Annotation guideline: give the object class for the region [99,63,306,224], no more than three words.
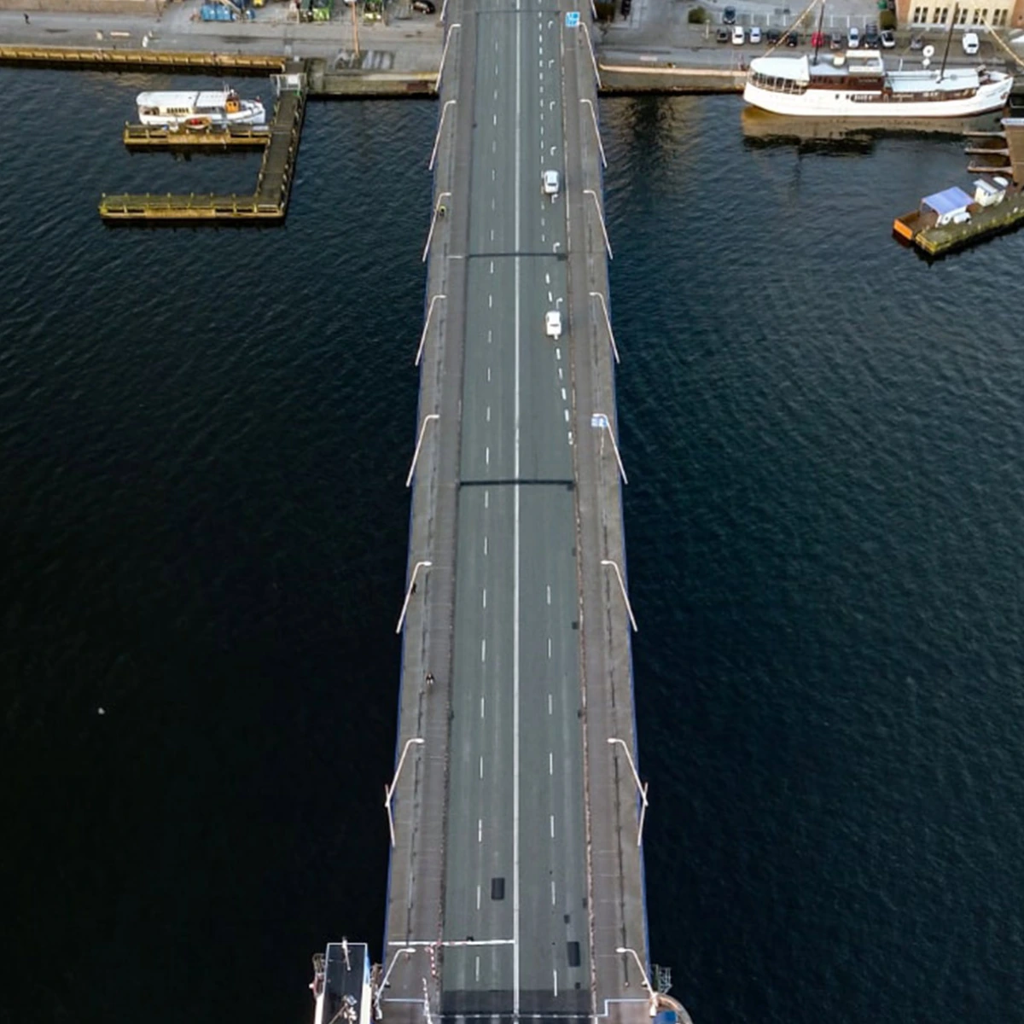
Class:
pier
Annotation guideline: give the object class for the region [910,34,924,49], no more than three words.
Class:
car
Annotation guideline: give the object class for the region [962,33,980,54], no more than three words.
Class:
vehicle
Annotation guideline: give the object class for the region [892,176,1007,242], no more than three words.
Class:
vessel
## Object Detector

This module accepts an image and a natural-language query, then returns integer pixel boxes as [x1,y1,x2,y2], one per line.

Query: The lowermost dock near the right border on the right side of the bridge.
[911,195,1024,260]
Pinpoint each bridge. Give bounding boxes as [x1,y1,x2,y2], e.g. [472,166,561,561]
[376,0,655,1024]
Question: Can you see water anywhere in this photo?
Yes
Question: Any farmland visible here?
No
